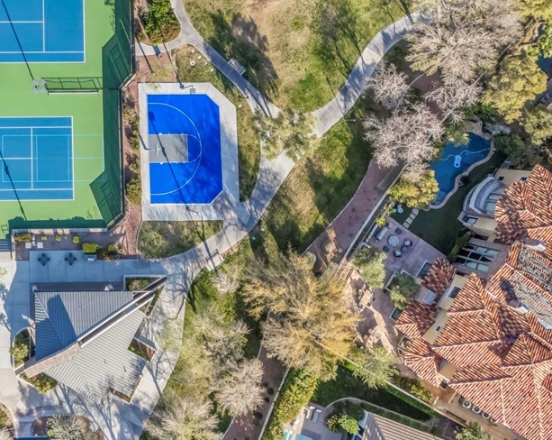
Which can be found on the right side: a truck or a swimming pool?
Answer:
swimming pool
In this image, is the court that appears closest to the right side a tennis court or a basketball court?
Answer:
basketball court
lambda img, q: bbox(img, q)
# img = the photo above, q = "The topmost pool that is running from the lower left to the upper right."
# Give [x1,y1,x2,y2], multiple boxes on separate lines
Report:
[424,129,496,210]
